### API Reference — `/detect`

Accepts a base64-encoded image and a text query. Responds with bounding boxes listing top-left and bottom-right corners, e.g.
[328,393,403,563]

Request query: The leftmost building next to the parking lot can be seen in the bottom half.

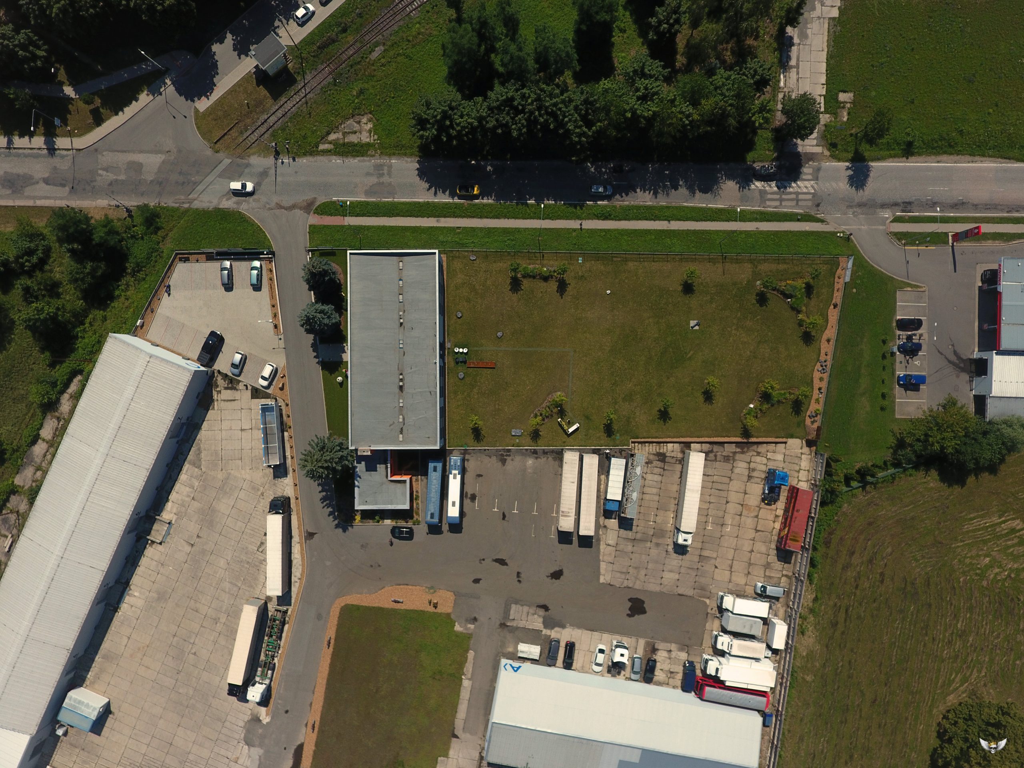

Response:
[0,333,210,768]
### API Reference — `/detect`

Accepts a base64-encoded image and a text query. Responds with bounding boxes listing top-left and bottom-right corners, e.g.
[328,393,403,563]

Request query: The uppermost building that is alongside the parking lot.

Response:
[347,250,447,455]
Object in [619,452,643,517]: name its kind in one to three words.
trailer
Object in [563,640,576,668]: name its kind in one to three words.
vehicle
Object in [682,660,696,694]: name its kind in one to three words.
vehicle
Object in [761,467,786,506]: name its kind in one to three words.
truck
